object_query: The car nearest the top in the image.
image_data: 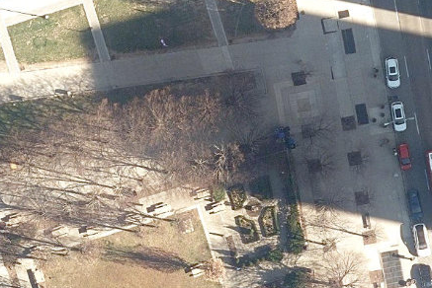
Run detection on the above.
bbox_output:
[385,57,402,89]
